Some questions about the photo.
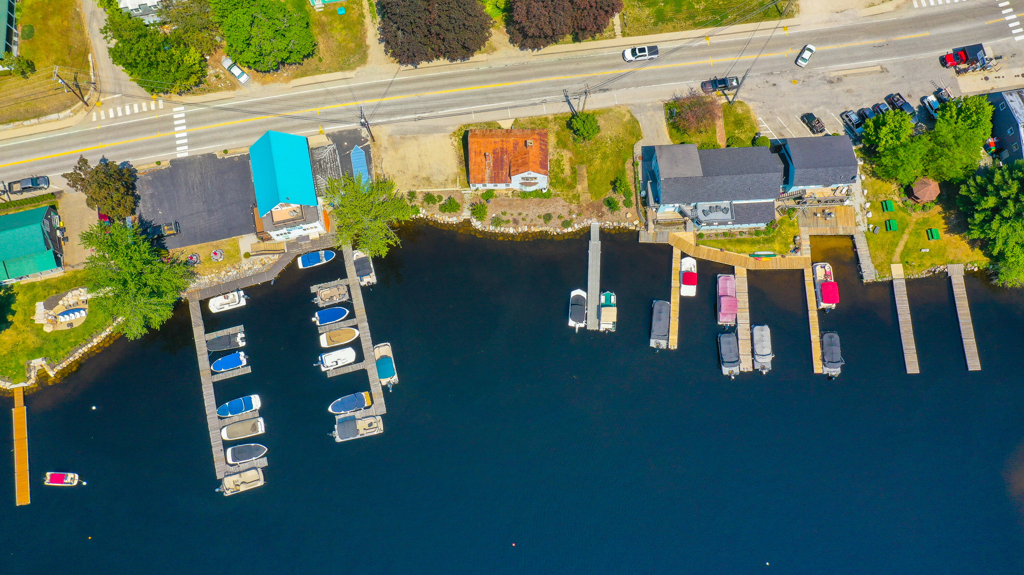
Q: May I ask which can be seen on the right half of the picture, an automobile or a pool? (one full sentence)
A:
It is an automobile that can be seen on the right half of the picture.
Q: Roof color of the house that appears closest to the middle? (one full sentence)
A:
The roof of the house that appears closest to the middle is orange.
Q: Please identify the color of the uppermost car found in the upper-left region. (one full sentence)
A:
The color of the uppermost car found in the upper-left region is white.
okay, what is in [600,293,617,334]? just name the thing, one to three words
boat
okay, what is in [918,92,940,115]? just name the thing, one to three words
car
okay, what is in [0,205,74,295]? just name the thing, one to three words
building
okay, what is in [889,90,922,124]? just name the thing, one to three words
truck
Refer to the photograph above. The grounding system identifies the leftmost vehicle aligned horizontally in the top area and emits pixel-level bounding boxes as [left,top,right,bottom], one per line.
[4,175,51,195]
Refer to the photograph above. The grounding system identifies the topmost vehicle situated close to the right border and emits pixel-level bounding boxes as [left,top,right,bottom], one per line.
[940,38,994,69]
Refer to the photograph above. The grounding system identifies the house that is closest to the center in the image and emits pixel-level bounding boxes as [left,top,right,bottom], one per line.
[468,129,549,195]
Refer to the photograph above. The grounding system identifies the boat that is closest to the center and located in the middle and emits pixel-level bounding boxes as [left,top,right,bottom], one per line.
[569,288,587,334]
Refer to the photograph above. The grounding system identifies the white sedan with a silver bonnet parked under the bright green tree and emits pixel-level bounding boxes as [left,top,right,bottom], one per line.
[222,58,249,82]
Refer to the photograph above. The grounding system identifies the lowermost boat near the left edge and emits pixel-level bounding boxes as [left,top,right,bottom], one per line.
[39,472,81,487]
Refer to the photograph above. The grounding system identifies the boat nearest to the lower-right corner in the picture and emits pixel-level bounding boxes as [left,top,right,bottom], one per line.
[819,330,843,377]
